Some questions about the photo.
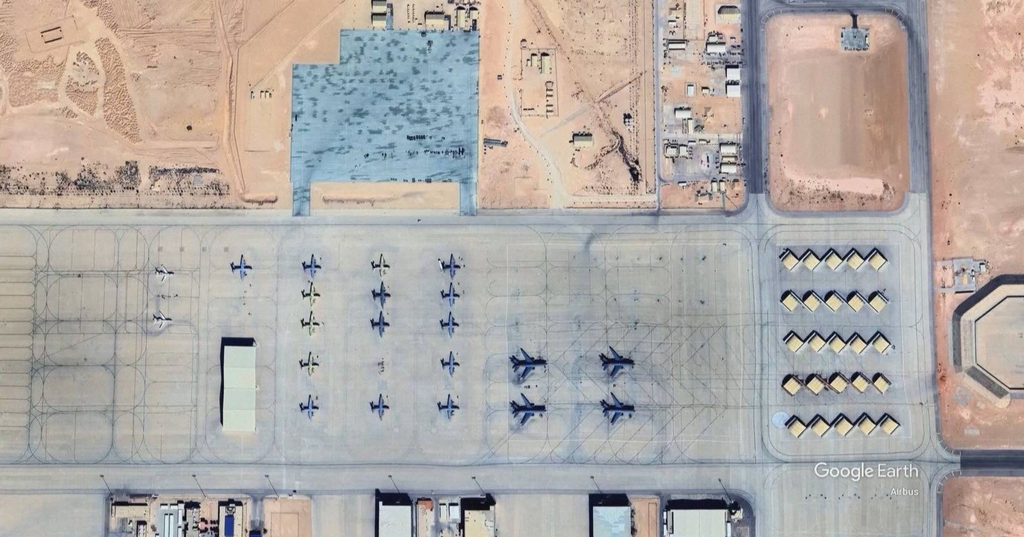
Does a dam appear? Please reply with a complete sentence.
No, there isn't any dam down there.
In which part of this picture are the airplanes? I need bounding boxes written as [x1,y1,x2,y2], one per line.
[440,395,459,421]
[440,283,459,309]
[370,255,390,281]
[370,313,389,338]
[371,283,390,309]
[299,353,319,379]
[439,312,459,338]
[232,256,252,282]
[301,255,321,281]
[510,348,547,379]
[511,392,546,424]
[300,283,320,309]
[151,311,171,328]
[369,395,389,421]
[300,312,319,338]
[153,264,173,281]
[441,255,460,281]
[600,392,634,424]
[600,347,635,379]
[299,396,318,422]
[440,353,459,378]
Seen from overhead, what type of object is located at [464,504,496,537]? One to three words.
hangar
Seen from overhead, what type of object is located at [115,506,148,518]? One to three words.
building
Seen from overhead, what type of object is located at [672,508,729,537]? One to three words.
hangar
